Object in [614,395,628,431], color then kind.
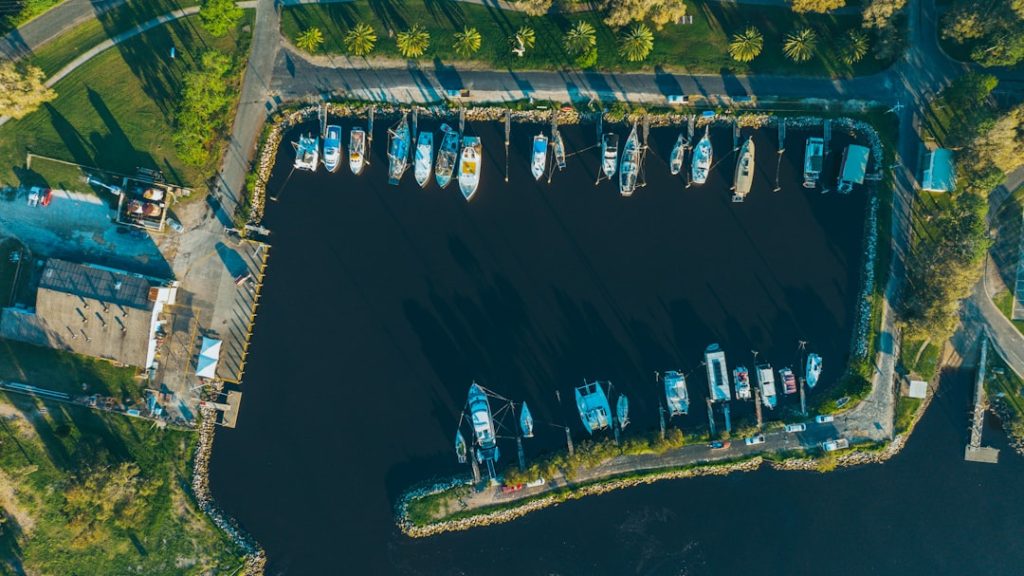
blue boat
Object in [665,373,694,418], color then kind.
blue boat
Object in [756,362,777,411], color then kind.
white boat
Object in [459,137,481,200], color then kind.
white boat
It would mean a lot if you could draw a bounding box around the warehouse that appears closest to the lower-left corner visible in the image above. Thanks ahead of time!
[0,258,187,369]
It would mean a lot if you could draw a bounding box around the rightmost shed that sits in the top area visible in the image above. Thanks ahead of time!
[916,149,962,193]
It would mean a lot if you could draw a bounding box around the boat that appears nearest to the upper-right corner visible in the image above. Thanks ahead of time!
[841,144,872,186]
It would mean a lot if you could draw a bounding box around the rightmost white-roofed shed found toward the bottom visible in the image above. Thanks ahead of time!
[903,380,926,399]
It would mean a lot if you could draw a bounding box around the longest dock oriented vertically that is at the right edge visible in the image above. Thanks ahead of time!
[967,334,989,448]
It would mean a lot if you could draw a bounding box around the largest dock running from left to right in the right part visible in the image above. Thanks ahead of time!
[963,446,1004,464]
